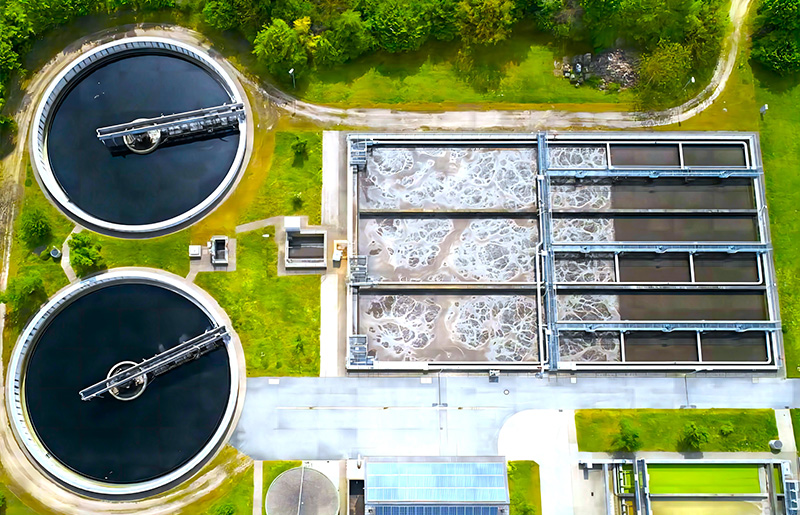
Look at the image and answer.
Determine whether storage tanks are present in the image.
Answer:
Yes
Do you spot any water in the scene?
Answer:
Yes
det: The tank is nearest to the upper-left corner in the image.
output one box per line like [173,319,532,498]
[31,37,248,234]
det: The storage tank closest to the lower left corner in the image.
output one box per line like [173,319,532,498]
[7,270,240,496]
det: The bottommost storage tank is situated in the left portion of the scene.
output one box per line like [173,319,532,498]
[265,466,341,515]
